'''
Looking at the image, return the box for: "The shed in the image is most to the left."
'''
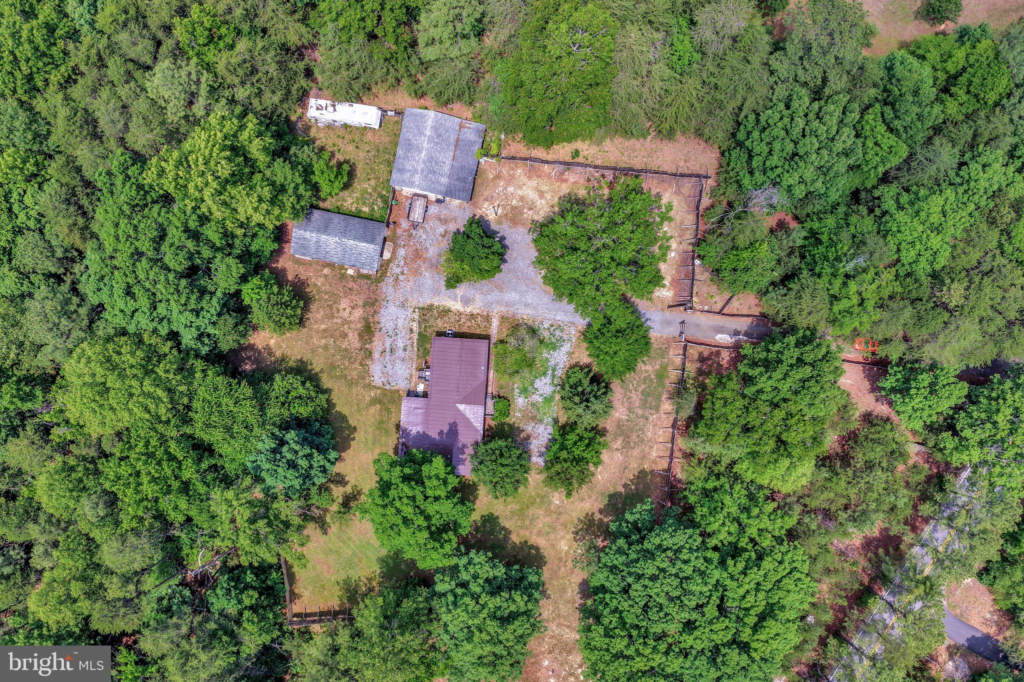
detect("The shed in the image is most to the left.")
[291,208,392,270]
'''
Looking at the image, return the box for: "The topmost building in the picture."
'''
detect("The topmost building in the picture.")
[390,109,486,203]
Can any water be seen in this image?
No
